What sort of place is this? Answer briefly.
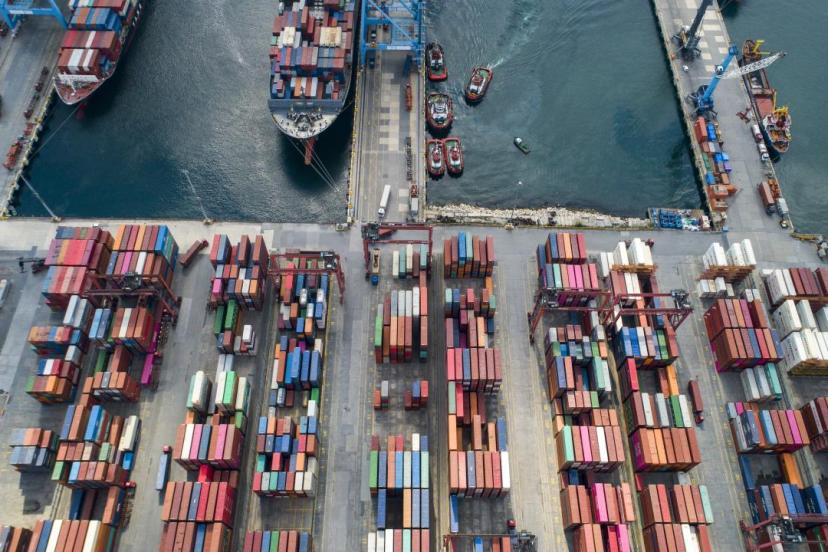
port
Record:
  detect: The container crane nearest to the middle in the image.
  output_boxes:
[361,222,437,276]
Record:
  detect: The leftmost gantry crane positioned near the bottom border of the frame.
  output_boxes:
[440,526,537,552]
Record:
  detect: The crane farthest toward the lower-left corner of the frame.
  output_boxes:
[82,272,180,326]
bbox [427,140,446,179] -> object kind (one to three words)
boat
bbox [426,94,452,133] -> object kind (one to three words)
boat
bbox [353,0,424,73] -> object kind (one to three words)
container crane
